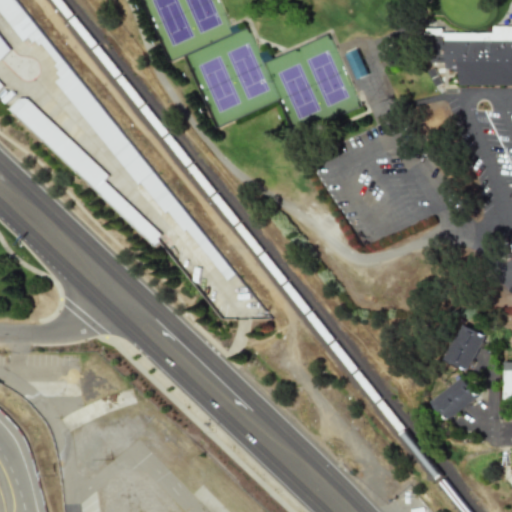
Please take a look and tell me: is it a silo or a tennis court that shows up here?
tennis court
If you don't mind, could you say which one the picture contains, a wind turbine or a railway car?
railway car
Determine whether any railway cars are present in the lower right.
Yes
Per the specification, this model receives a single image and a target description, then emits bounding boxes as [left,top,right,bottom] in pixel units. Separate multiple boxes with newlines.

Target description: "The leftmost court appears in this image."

[147,0,198,60]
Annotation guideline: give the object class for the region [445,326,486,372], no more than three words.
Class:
house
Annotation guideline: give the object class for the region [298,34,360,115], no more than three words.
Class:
tennis court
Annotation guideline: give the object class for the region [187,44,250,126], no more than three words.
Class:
tennis court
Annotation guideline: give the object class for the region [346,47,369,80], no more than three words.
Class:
building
